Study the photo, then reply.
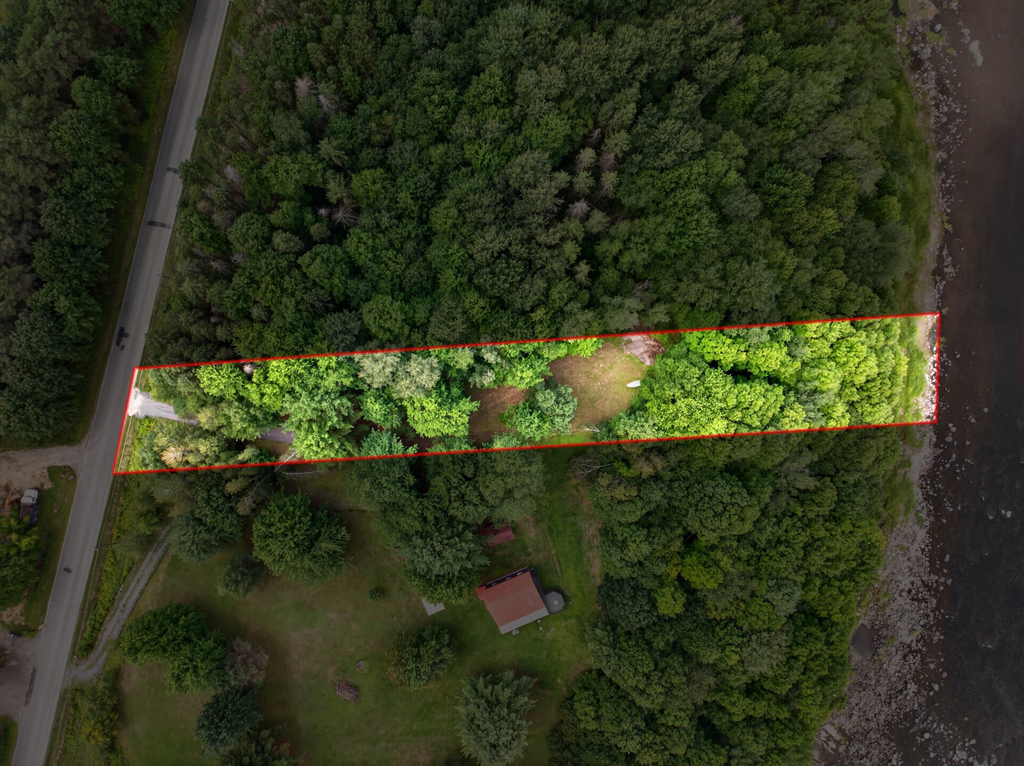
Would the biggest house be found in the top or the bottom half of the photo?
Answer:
bottom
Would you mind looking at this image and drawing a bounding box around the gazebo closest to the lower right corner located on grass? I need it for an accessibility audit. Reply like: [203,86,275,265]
[545,590,565,612]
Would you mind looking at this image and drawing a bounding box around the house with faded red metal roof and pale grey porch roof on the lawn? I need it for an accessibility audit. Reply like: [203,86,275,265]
[477,565,548,633]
